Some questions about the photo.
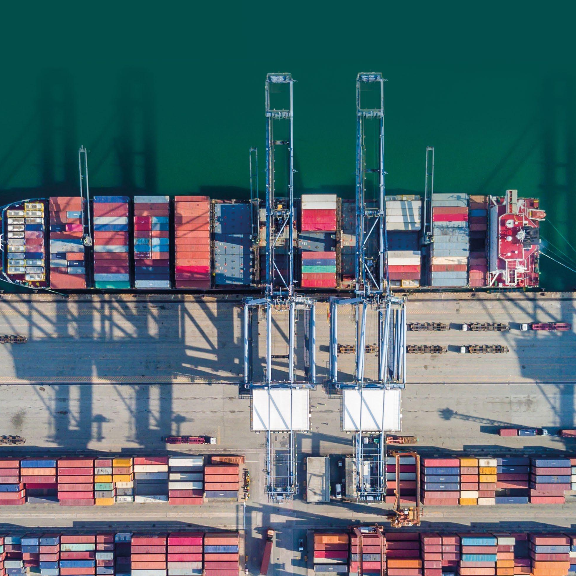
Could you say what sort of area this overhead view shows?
port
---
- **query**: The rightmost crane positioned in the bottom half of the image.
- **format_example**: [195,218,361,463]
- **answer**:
[383,445,422,526]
